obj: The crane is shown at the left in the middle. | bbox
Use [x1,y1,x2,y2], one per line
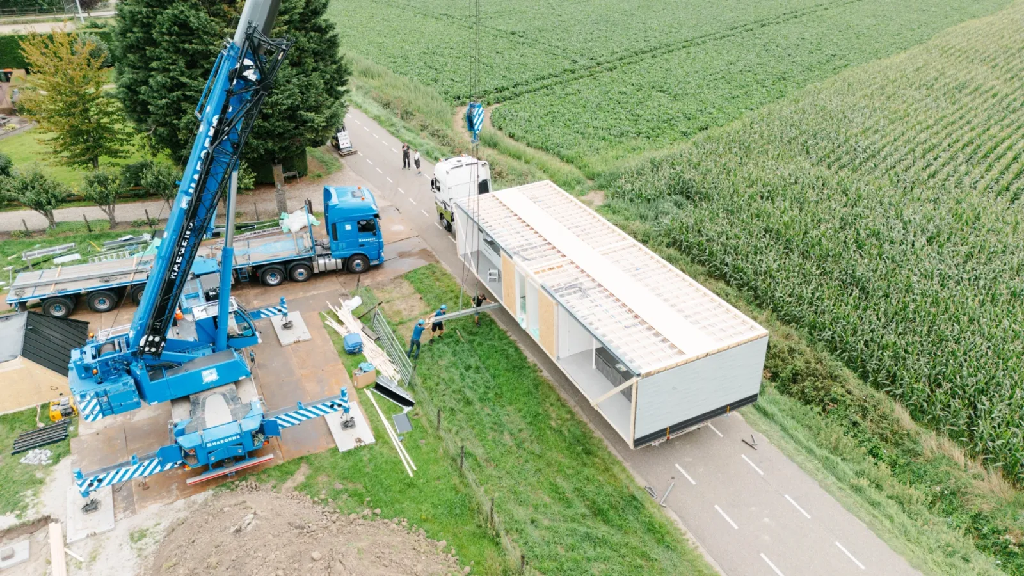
[66,0,356,509]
